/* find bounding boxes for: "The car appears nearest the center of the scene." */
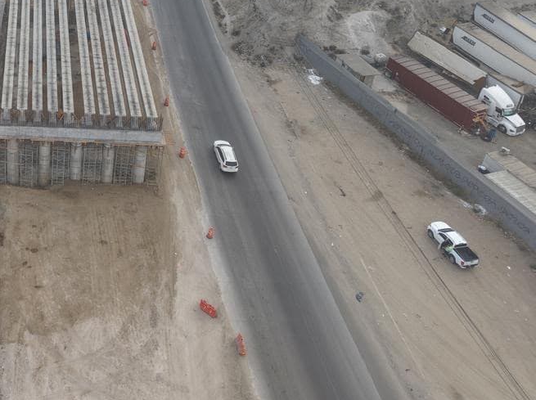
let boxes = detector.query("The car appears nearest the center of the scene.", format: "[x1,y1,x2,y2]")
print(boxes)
[212,138,242,171]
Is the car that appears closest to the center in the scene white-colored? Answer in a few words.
Yes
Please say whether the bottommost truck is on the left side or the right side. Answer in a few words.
right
